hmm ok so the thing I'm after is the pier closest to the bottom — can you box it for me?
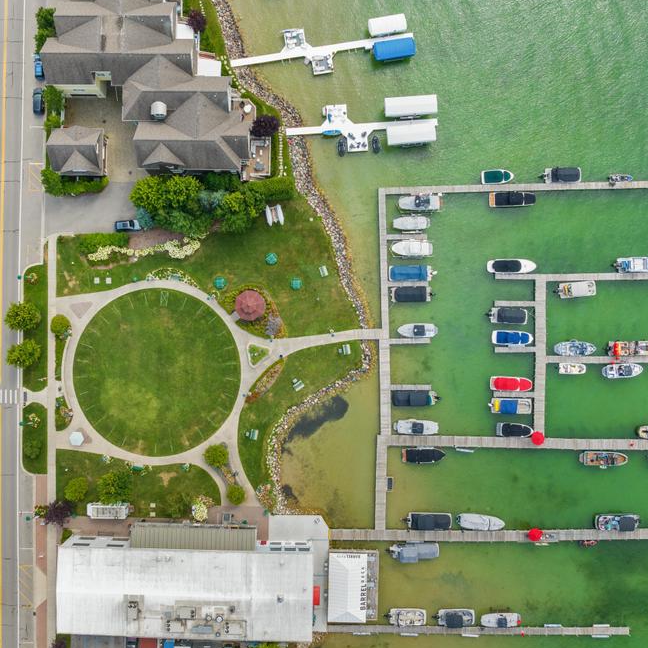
[327,623,631,637]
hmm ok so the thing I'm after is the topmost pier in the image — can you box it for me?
[230,28,415,77]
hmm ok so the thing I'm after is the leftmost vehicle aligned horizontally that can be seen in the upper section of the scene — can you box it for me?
[114,219,142,232]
